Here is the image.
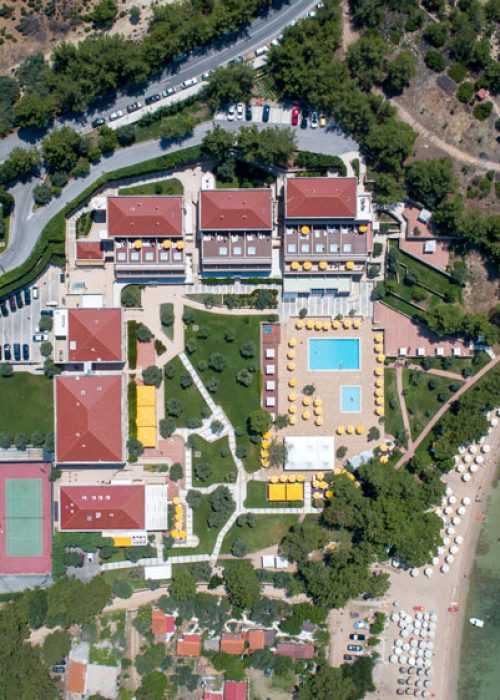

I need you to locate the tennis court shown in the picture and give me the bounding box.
[0,463,52,575]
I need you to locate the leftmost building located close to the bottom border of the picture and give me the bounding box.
[66,636,90,694]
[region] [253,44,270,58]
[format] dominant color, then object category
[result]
white vehicle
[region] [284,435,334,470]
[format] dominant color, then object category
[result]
white tent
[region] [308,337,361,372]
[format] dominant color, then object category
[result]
blue swimming pool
